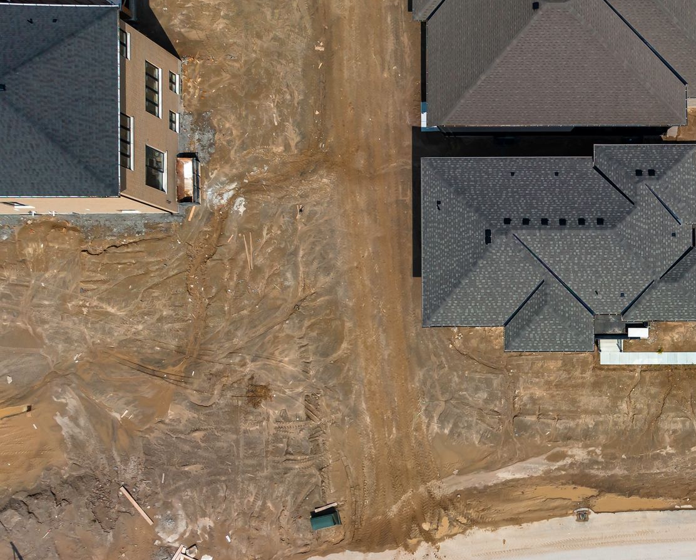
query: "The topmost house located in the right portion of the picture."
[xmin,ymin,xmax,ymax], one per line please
[412,0,696,134]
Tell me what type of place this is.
residential area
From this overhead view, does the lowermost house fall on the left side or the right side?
right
